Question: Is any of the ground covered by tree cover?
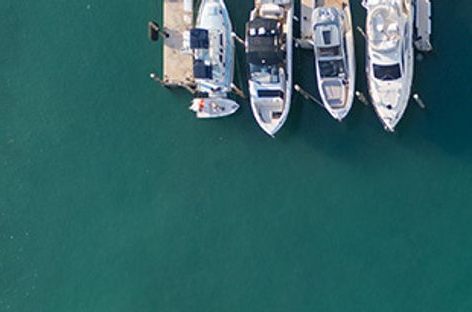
No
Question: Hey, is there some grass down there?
No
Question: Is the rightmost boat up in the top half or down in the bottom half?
top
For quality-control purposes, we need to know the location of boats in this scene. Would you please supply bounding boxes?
[365,0,415,131]
[191,98,241,118]
[314,0,360,121]
[190,0,237,98]
[245,0,298,138]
